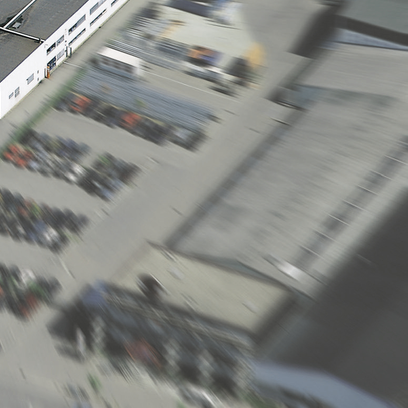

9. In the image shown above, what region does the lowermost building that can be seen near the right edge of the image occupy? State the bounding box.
[260,200,408,408]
